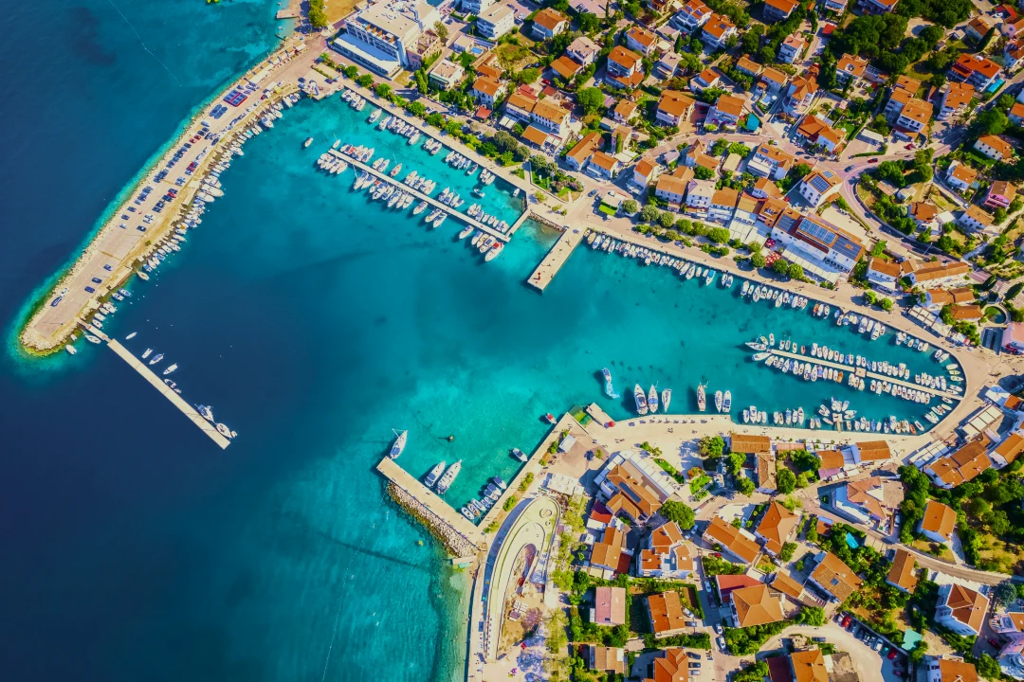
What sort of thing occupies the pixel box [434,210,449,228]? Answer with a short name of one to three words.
boat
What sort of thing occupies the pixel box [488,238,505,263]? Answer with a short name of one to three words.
boat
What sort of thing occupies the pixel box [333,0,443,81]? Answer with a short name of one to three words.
building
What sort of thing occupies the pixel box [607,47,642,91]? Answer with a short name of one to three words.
house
